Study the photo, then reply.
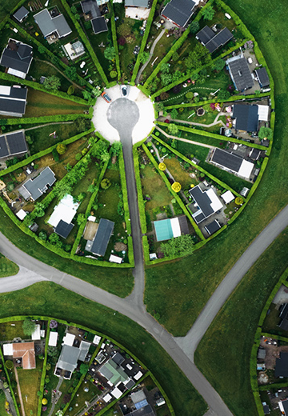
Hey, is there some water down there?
No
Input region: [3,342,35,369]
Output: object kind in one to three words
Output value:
house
